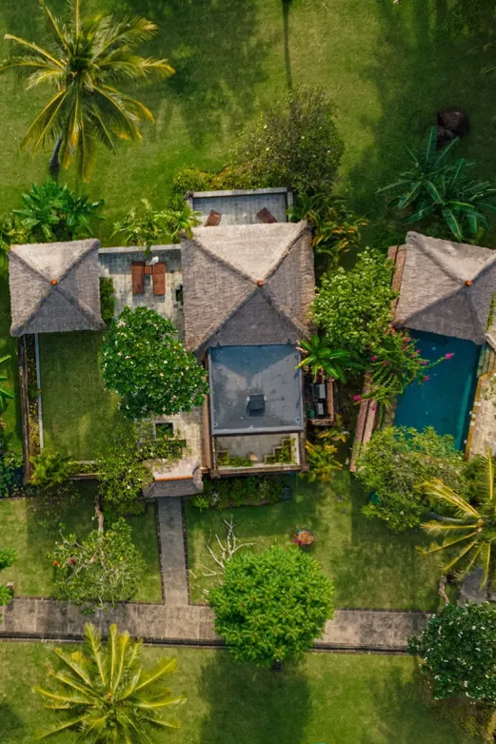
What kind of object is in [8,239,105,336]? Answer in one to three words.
building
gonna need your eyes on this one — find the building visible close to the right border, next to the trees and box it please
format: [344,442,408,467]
[394,233,496,344]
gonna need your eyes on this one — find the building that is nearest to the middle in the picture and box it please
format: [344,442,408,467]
[182,221,315,477]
